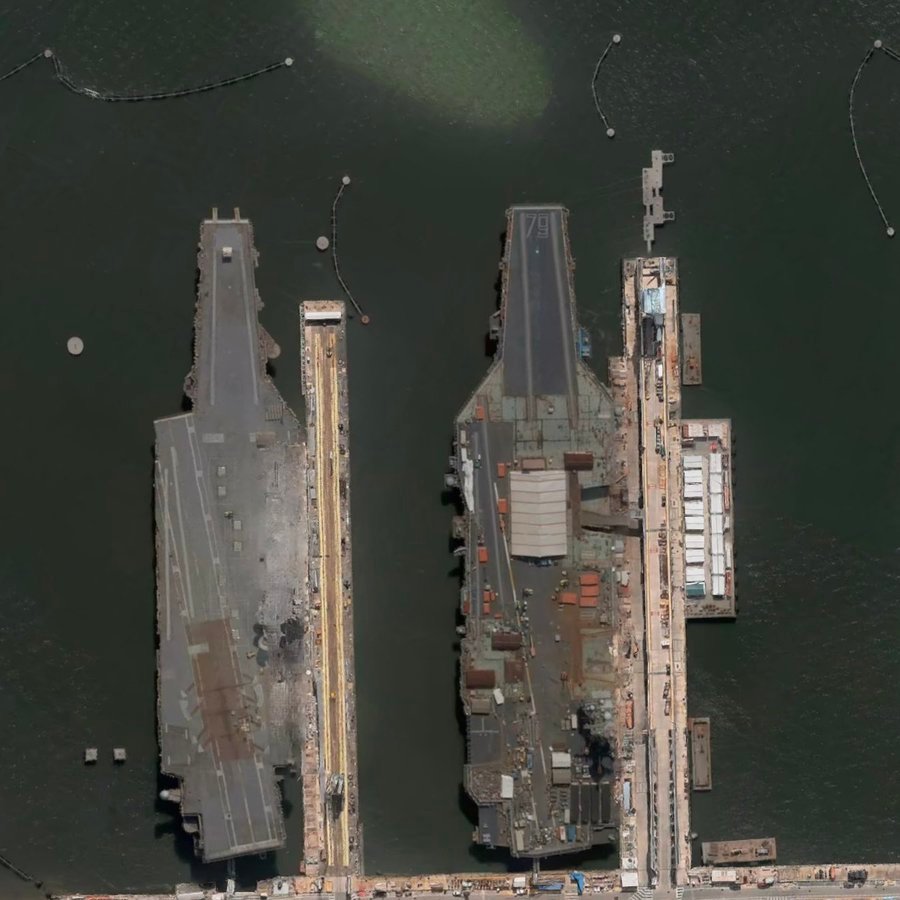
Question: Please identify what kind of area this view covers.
port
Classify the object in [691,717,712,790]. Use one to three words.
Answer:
ship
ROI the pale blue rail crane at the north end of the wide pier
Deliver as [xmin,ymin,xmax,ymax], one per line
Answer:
[642,275,666,316]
